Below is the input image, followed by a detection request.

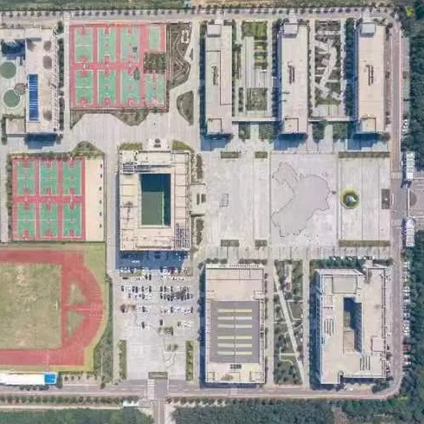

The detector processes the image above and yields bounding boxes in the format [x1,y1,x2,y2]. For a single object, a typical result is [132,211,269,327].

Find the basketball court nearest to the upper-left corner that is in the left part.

[75,28,93,63]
